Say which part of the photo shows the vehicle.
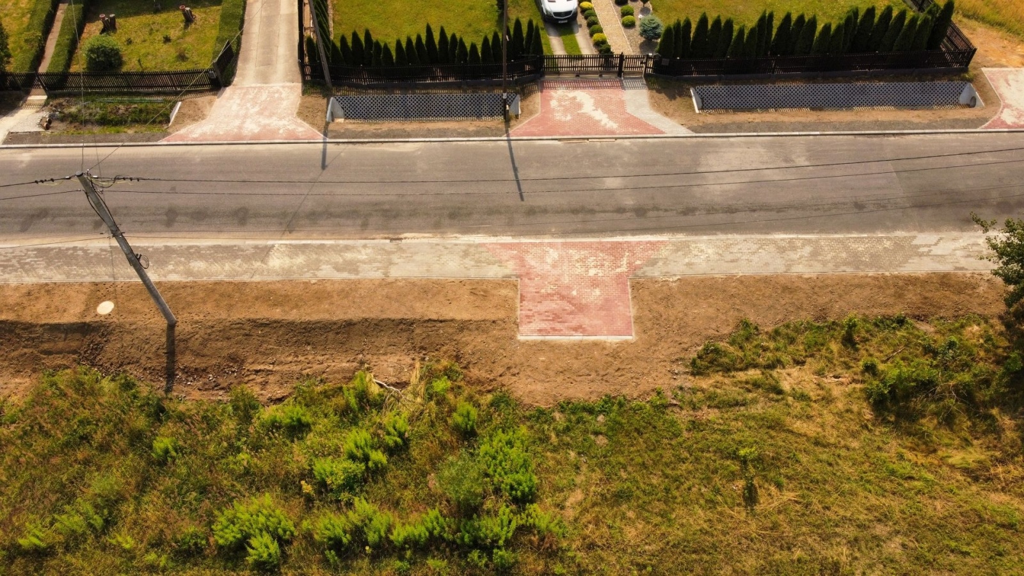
top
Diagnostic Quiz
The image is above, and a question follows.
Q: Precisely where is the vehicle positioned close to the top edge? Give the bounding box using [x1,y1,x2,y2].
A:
[537,0,577,25]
